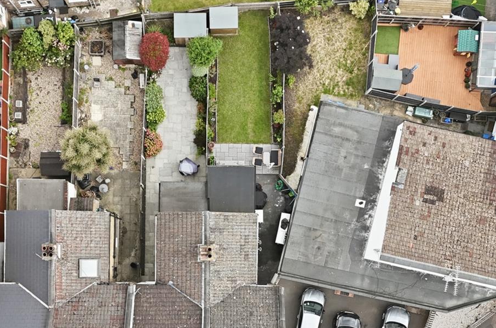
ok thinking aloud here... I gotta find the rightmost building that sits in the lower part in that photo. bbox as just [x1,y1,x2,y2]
[276,97,496,314]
